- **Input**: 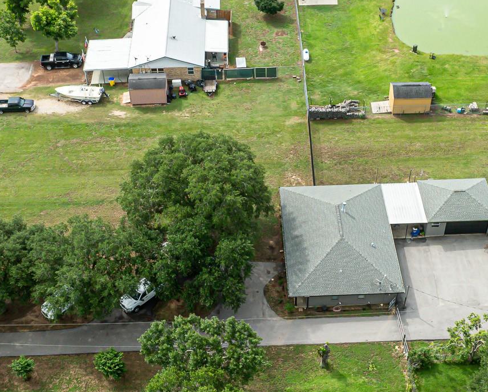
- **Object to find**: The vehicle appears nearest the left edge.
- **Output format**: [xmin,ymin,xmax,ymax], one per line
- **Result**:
[0,99,36,119]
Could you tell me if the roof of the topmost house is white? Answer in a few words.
Yes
